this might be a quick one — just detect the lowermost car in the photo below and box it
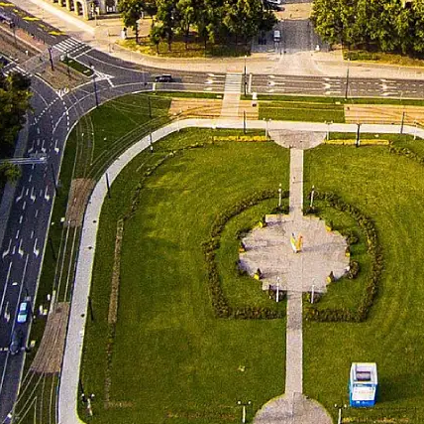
[9,332,24,353]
